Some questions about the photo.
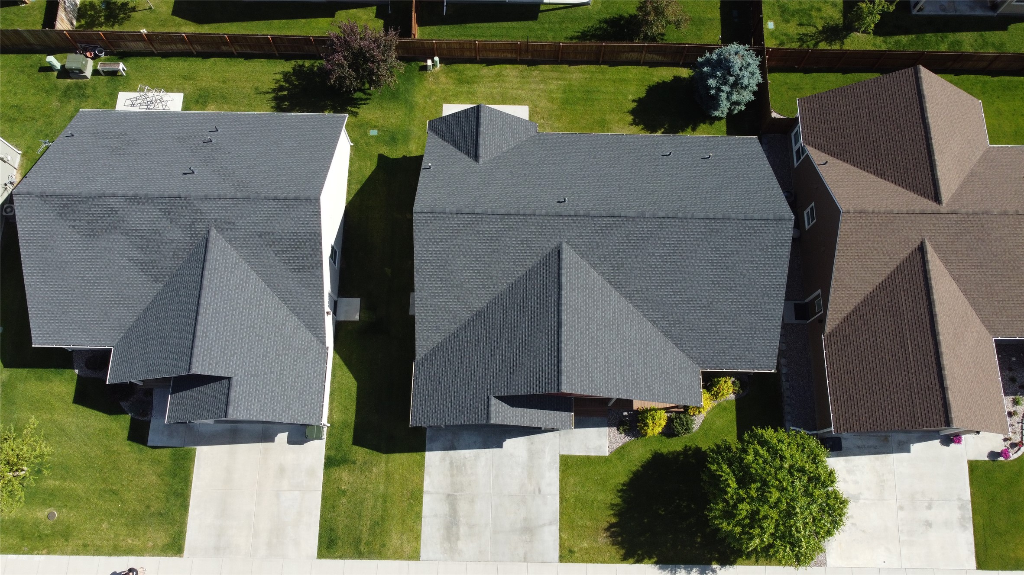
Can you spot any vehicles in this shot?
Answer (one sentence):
No, the frame has no vehicle in it.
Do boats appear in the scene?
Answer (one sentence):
No, no boat can be seen from above.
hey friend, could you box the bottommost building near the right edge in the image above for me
[789,63,1024,438]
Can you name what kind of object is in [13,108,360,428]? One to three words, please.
house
